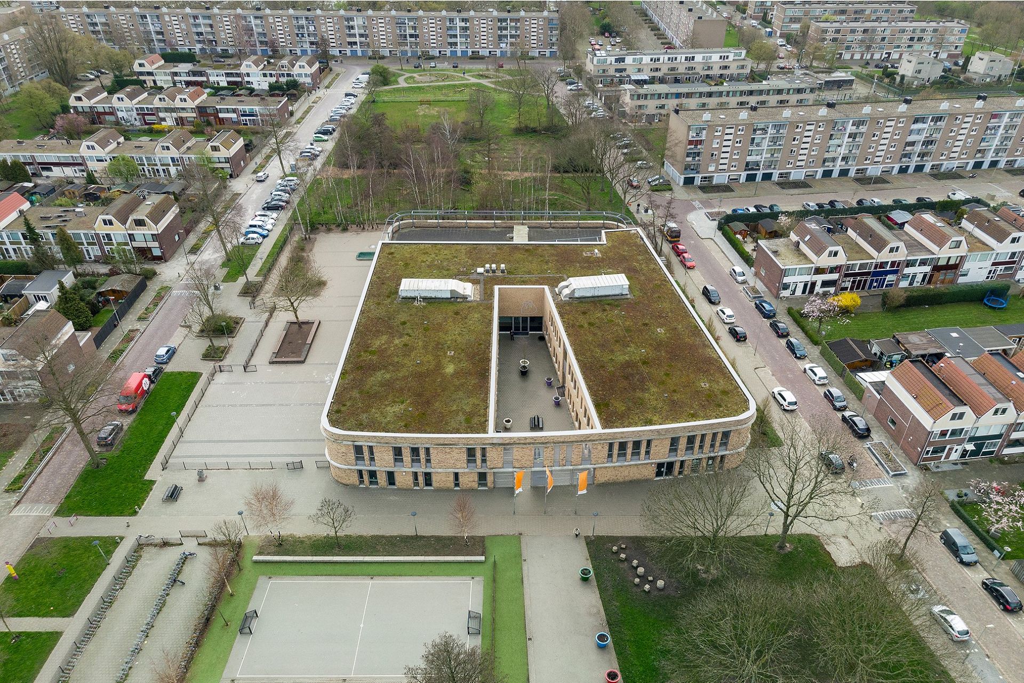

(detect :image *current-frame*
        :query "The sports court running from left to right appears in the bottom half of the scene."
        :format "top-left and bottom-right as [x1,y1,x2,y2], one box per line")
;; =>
[220,578,484,683]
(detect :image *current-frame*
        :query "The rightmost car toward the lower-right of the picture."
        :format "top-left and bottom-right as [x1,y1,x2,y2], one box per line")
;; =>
[978,575,1024,619]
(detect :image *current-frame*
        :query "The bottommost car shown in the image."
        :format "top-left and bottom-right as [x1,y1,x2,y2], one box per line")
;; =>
[926,601,976,649]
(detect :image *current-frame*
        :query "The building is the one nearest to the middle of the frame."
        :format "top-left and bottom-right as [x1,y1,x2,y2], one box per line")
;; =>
[321,213,757,491]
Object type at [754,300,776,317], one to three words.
car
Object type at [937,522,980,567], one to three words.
van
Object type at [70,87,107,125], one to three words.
house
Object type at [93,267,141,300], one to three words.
shed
